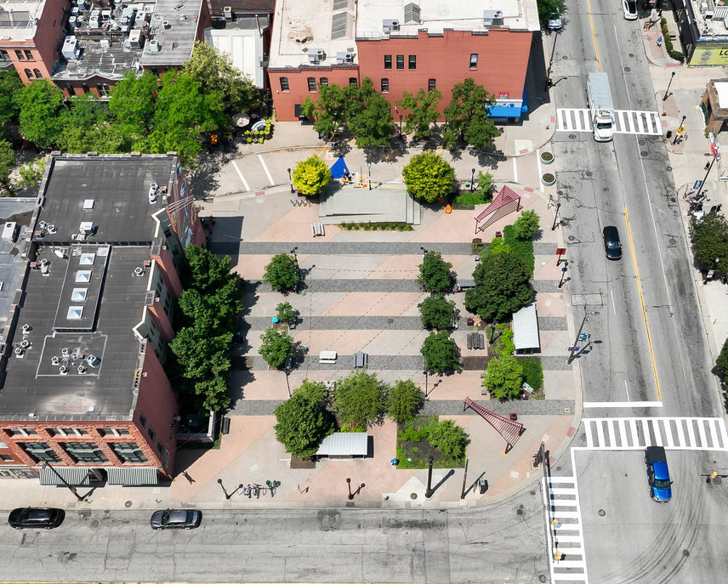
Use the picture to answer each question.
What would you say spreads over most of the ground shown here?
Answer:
paved ground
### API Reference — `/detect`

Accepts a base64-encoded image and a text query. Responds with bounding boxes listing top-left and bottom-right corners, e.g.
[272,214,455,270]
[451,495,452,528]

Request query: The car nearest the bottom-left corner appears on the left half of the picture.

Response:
[13,506,65,530]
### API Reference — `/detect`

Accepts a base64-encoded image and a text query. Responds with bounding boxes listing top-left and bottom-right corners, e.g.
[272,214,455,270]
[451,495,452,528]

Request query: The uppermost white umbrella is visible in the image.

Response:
[233,114,251,132]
